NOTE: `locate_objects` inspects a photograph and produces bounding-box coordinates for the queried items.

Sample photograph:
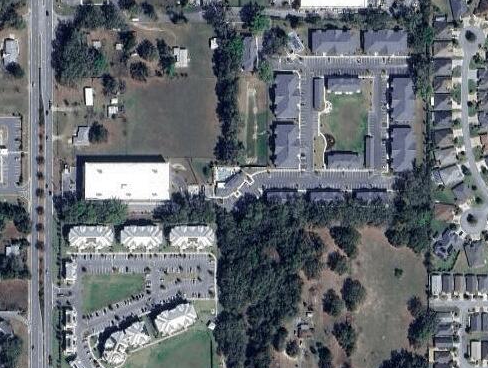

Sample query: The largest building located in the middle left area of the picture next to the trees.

[83,160,170,200]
